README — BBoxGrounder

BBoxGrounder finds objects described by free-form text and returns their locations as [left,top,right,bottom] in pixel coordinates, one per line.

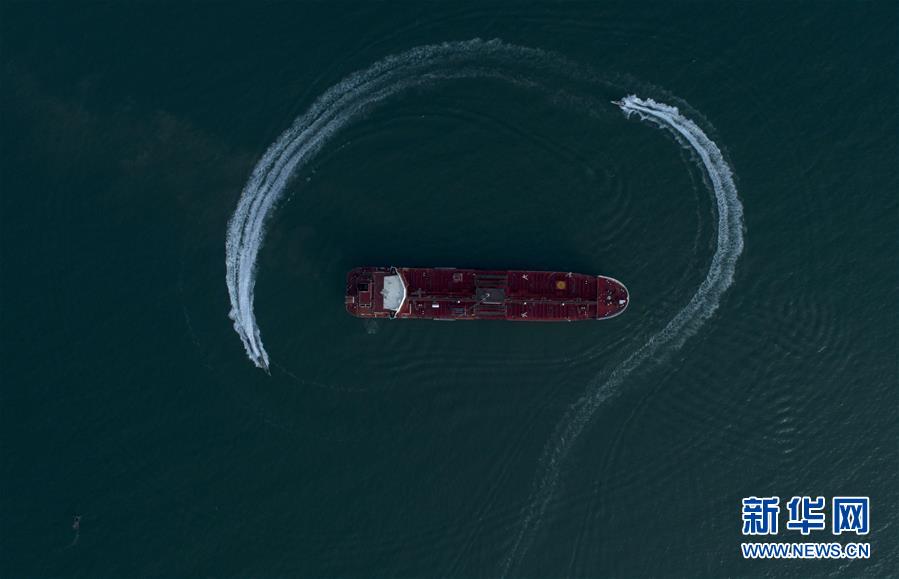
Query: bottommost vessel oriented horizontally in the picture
[345,267,629,322]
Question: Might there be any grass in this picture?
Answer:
No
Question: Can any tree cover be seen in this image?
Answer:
No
